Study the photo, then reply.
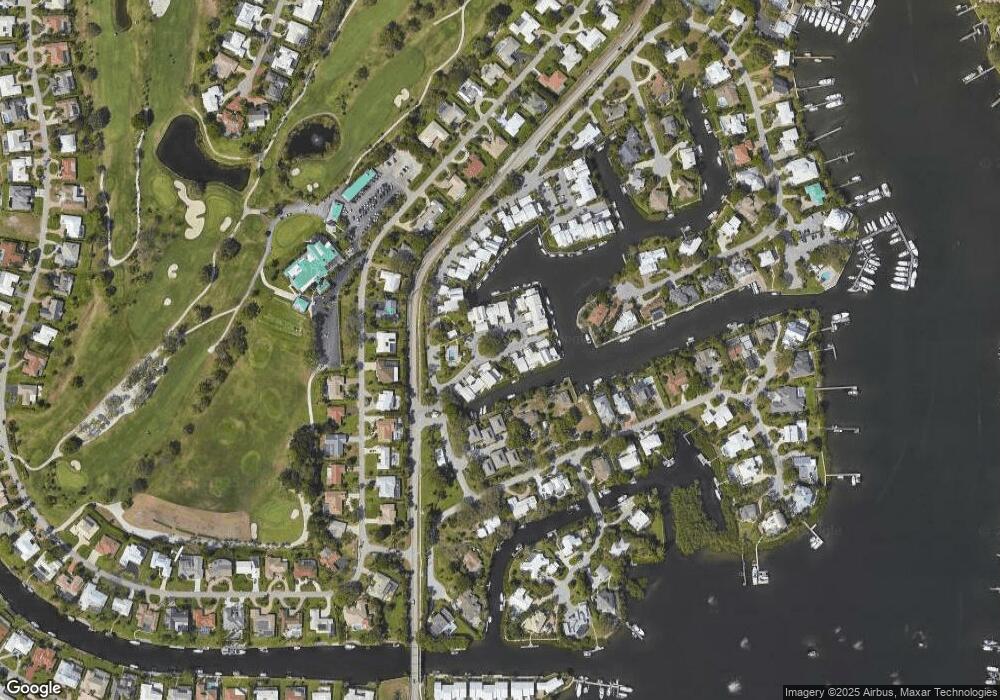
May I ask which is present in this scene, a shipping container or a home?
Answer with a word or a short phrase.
home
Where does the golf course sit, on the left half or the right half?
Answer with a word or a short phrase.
left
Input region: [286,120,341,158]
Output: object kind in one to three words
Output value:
pond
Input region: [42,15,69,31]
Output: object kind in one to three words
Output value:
house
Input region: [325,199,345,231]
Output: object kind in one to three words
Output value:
building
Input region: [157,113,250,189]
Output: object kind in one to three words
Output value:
pond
